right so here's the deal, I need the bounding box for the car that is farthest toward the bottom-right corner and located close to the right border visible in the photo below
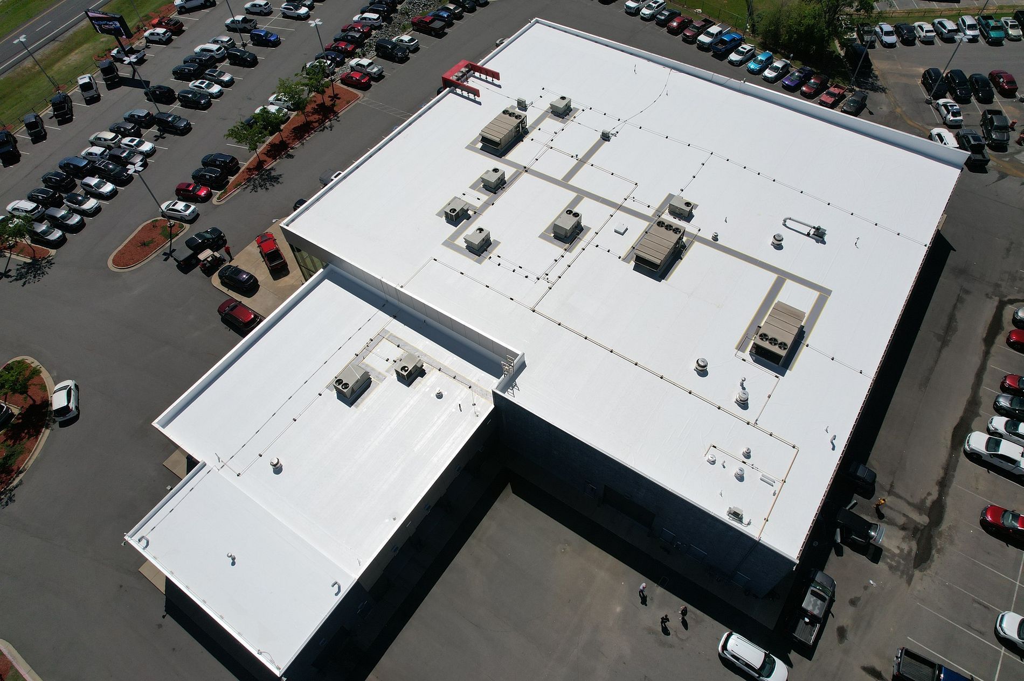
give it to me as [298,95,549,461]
[990,617,1024,657]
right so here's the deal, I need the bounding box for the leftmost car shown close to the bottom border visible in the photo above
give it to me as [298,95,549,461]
[712,627,795,681]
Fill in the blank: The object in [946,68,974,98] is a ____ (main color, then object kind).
black car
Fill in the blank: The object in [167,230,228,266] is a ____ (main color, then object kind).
black truck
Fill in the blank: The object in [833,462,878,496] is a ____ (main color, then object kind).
black truck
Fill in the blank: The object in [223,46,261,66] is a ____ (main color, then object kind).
black car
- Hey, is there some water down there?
No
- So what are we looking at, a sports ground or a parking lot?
parking lot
